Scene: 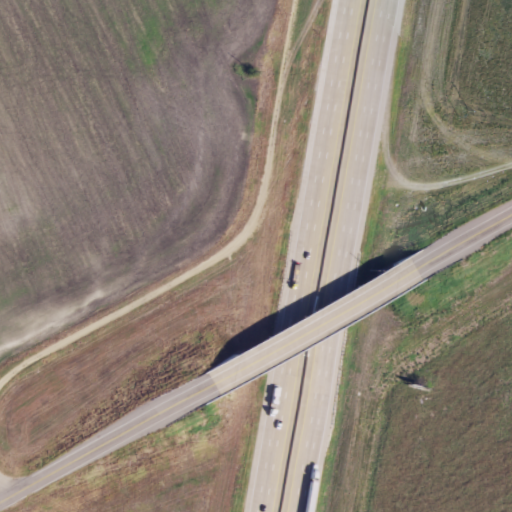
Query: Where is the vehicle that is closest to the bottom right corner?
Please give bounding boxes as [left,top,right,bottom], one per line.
[306,463,320,510]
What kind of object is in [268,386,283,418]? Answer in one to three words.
vehicle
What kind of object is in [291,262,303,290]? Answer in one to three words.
vehicle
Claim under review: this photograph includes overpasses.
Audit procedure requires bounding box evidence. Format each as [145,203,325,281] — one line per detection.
[204,250,429,406]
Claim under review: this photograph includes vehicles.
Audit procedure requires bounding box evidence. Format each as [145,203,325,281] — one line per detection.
[304,250,310,261]
[306,463,320,510]
[291,262,303,290]
[268,386,283,418]
[275,420,281,430]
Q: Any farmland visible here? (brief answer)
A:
Yes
